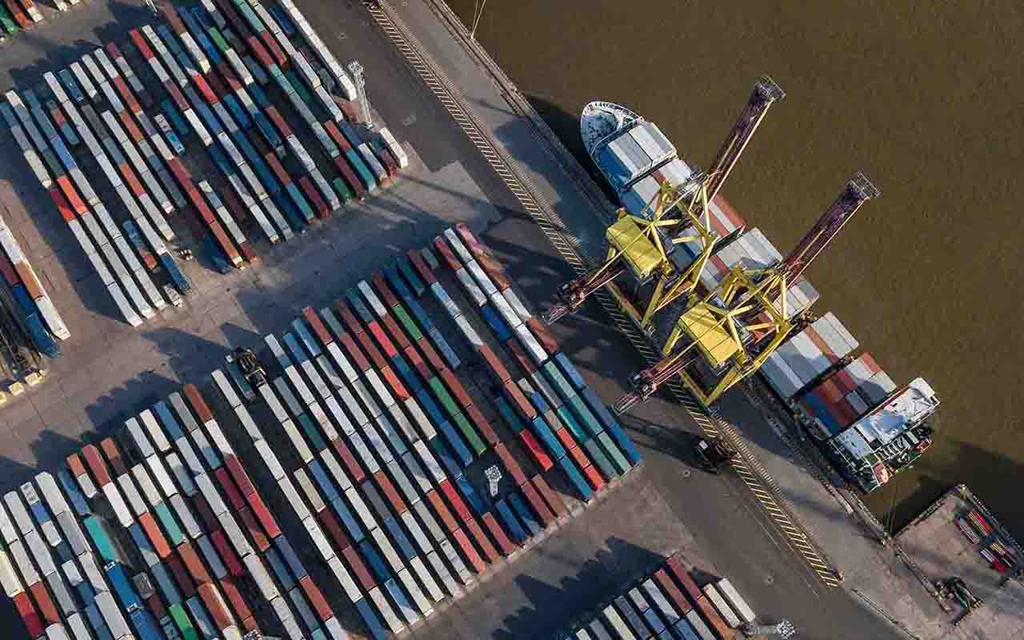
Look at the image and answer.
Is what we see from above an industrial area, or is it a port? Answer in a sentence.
This image shows a port.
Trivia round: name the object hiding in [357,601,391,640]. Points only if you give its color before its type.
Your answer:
blue shipping container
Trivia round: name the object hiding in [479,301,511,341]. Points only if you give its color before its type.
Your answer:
blue shipping container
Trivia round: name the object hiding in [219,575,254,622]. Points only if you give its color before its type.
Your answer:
red shipping container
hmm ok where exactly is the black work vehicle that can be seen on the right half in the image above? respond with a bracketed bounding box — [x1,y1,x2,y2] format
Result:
[691,430,744,479]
